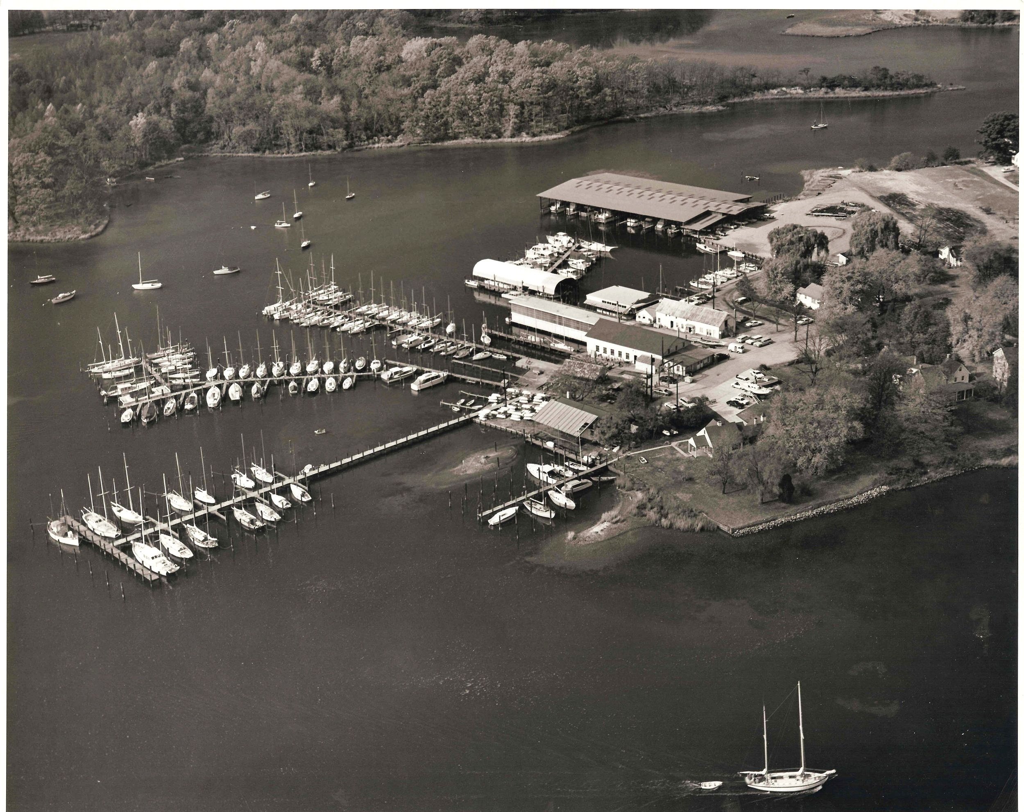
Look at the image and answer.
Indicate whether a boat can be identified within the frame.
Yes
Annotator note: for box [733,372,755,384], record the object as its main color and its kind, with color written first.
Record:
white vehicle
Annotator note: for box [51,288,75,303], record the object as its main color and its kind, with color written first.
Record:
gray boat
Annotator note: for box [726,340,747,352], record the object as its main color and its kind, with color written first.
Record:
white vehicle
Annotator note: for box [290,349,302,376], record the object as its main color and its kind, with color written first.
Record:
white boat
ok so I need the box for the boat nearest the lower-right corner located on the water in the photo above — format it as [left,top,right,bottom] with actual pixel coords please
[743,682,835,794]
